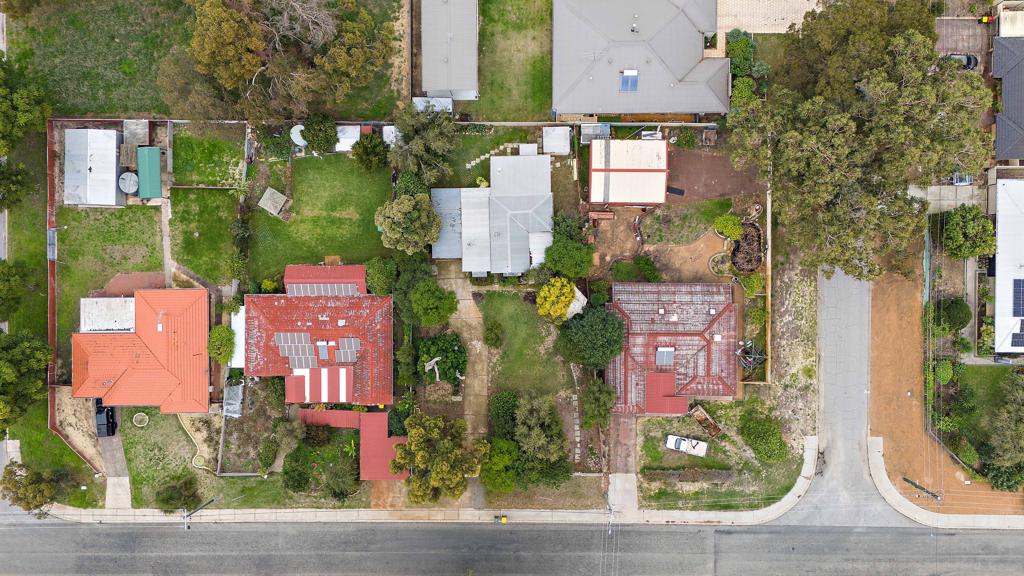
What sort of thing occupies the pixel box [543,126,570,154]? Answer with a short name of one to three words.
shed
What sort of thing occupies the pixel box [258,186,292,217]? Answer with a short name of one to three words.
gazebo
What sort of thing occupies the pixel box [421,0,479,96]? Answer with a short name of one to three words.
shed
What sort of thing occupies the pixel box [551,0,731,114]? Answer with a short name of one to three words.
house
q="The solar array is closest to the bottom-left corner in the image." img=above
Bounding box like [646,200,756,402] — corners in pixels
[275,332,317,368]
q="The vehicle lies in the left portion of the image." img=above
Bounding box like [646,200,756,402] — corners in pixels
[93,399,115,435]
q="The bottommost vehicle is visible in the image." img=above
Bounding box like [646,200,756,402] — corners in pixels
[665,435,712,460]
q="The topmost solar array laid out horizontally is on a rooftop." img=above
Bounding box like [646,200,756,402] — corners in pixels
[287,283,357,295]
